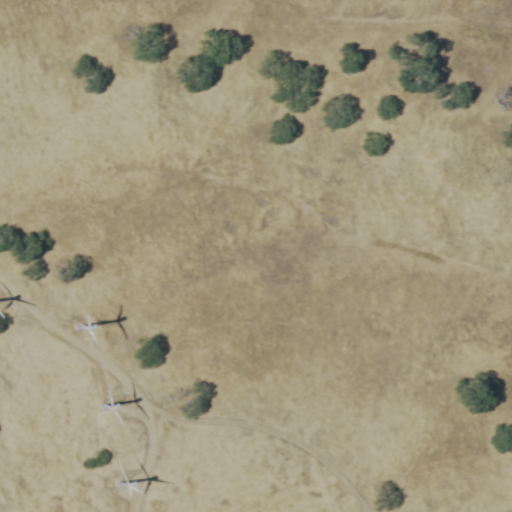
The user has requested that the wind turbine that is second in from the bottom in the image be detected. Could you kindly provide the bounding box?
[97,391,122,426]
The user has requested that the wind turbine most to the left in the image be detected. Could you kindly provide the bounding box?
[72,312,100,344]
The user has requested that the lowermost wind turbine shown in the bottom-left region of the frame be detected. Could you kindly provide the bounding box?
[114,468,136,500]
